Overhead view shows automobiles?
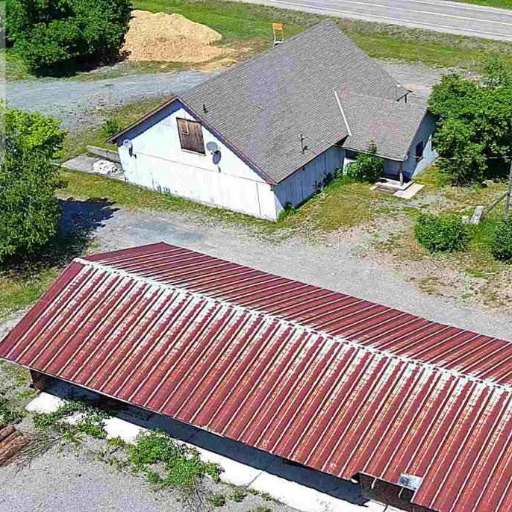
No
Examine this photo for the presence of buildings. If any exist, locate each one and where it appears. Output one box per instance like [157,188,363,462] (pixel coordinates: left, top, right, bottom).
[105,20,446,220]
[0,241,512,512]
